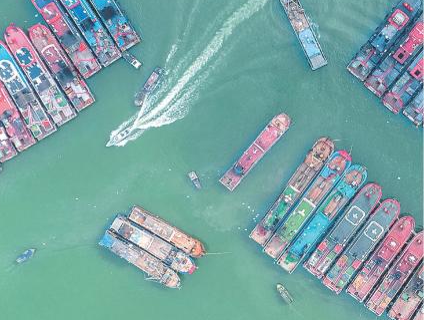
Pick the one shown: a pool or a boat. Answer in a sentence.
I can see a boat in this picture.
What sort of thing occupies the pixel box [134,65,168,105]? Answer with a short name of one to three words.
boat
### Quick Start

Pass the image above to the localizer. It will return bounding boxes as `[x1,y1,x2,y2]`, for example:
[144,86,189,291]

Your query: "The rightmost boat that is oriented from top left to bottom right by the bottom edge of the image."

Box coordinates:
[275,284,294,305]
